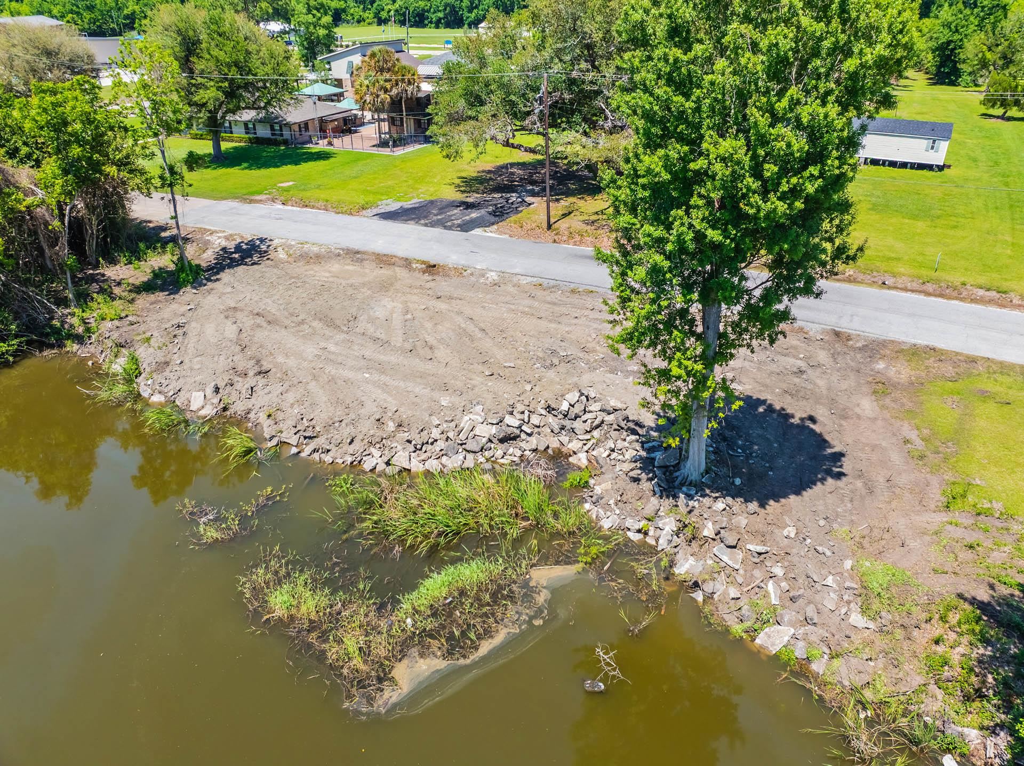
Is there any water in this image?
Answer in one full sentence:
Yes, water can be seen from above here.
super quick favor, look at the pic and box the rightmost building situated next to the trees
[859,114,956,171]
